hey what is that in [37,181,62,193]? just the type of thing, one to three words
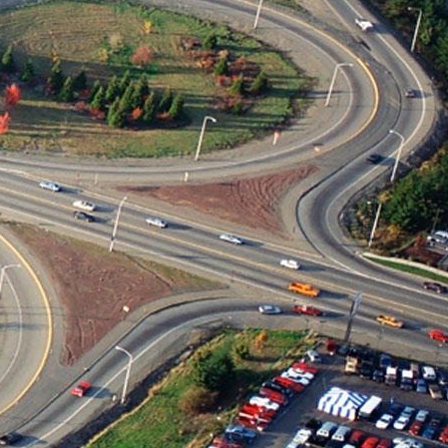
vehicle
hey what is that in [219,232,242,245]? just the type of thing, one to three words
vehicle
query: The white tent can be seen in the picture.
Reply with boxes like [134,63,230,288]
[315,383,369,422]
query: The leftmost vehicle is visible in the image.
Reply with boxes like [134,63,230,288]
[0,431,24,448]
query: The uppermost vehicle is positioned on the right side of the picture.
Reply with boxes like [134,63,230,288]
[356,18,372,32]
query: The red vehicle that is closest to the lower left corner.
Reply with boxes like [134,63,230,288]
[71,380,92,397]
